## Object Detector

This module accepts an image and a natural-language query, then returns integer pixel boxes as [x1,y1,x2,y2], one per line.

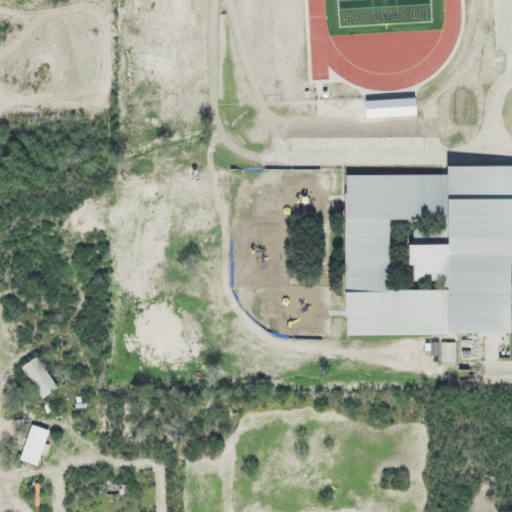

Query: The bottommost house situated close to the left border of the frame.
[20,424,50,465]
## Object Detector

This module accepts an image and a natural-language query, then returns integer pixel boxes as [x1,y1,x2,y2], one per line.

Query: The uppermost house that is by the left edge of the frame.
[21,357,54,397]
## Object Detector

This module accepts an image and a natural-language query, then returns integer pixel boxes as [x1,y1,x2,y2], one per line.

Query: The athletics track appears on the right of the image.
[306,0,464,94]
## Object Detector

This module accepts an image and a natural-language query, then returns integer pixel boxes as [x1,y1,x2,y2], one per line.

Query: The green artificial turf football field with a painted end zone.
[326,0,444,36]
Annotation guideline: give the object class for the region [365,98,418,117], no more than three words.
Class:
building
